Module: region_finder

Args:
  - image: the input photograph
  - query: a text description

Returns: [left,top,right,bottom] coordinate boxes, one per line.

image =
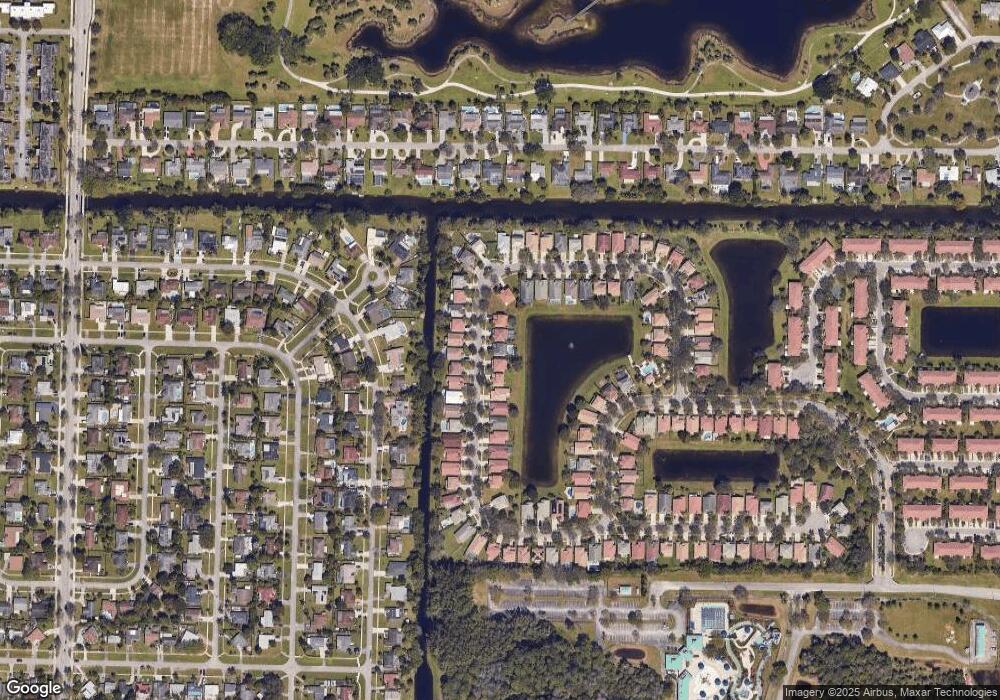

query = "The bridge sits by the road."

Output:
[65,187,86,216]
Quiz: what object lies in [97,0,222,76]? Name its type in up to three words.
sports field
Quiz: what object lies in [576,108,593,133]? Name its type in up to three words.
house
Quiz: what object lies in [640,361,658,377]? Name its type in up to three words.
swimming pool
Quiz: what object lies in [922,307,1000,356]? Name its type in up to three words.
pond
